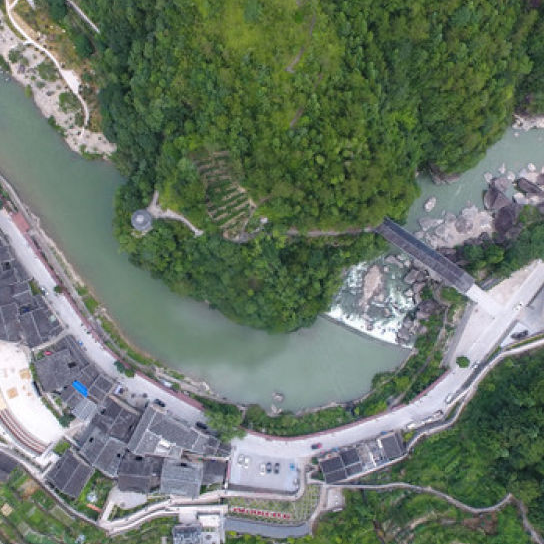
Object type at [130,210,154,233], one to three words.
building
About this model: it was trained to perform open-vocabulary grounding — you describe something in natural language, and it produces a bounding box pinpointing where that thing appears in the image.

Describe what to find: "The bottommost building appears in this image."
[173,523,203,544]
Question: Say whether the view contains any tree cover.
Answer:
Yes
